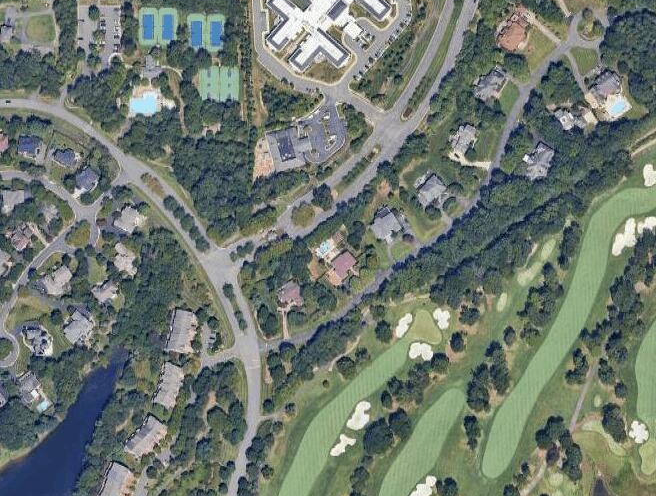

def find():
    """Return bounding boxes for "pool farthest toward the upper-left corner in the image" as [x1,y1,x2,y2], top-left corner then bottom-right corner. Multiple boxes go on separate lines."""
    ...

[128,85,173,117]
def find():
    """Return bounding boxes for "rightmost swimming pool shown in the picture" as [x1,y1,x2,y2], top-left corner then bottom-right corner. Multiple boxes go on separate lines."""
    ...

[601,95,631,121]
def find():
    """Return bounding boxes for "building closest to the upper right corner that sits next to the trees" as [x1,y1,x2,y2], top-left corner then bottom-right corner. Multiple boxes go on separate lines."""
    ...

[588,63,623,101]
